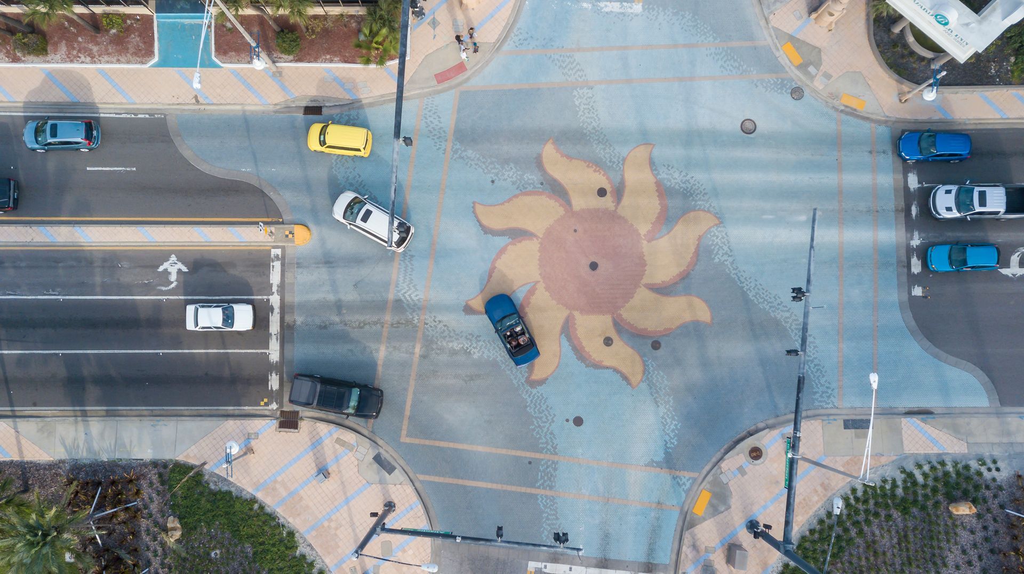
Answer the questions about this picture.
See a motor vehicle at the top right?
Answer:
Yes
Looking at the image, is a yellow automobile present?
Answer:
Yes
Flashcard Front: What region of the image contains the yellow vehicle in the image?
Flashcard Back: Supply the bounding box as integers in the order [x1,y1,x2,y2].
[308,118,374,157]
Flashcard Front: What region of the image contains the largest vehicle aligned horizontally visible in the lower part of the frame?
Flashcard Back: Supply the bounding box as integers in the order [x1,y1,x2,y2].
[285,374,386,423]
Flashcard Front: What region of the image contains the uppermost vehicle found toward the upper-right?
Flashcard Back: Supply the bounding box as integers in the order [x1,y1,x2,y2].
[895,127,972,164]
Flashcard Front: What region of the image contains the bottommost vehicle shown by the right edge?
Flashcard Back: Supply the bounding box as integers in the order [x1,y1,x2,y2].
[925,240,1002,275]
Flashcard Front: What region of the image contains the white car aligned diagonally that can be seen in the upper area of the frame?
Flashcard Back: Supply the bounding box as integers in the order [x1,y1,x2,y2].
[336,194,413,251]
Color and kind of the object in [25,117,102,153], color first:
blue car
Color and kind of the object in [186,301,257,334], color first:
white car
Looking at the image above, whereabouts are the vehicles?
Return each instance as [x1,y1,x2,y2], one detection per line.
[186,301,257,334]
[926,179,1024,223]
[895,127,972,164]
[487,292,539,366]
[413,0,426,22]
[925,240,1002,275]
[308,118,374,157]
[25,117,102,153]
[285,374,386,423]
[336,194,413,251]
